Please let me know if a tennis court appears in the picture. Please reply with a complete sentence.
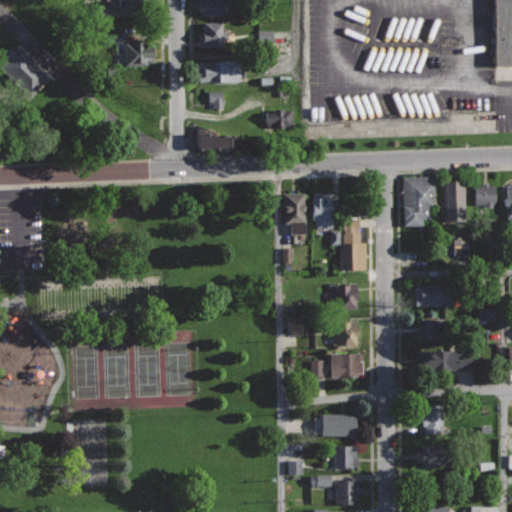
Yes, looking at the shot, I can spot a tennis court.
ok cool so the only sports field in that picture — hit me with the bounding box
[39,276,160,320]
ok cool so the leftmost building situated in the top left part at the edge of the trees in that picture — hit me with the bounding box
[1,58,46,90]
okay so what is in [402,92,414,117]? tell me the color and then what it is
white vehicle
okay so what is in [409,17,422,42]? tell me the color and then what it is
white vehicle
